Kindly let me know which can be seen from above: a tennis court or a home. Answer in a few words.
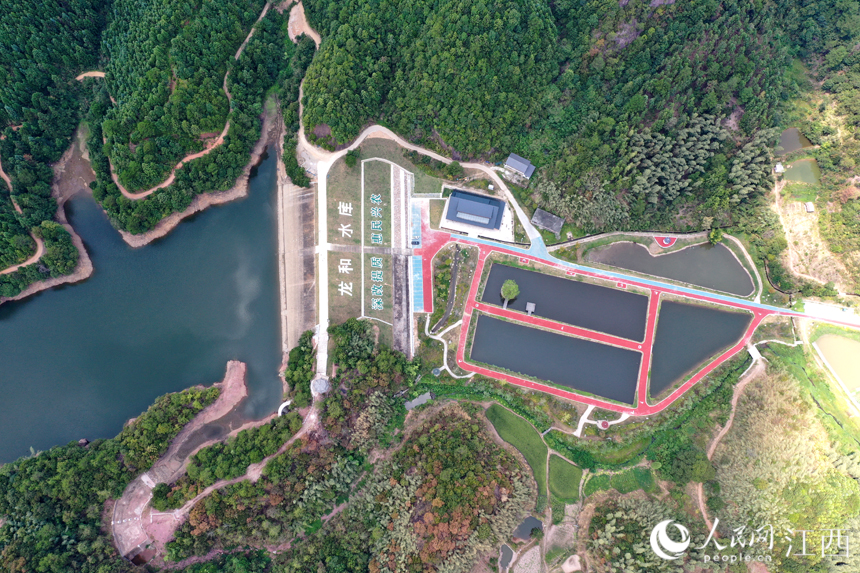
home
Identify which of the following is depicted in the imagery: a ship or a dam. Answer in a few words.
dam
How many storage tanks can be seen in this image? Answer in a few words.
0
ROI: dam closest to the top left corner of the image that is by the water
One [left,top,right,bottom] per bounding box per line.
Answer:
[278,150,414,385]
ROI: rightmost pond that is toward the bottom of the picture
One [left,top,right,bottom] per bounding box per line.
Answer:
[810,334,860,413]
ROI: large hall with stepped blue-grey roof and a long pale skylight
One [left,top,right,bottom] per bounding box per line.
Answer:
[447,188,506,231]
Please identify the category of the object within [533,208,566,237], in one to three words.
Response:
building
